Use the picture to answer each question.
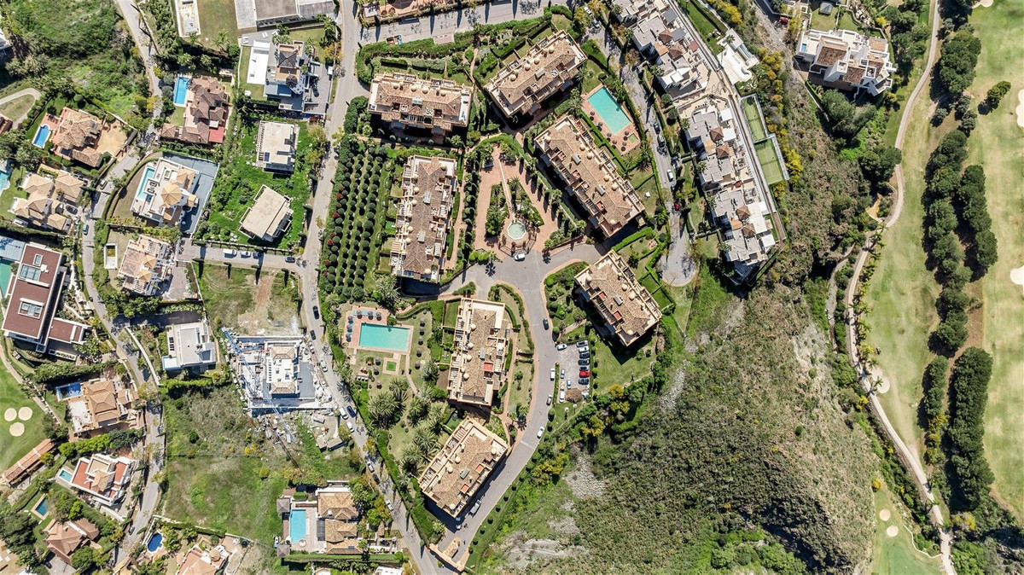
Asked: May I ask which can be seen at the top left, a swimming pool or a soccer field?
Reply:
swimming pool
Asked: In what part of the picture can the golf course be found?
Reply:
right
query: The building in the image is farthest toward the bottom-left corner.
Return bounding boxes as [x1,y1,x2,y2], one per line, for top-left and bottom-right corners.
[45,514,106,565]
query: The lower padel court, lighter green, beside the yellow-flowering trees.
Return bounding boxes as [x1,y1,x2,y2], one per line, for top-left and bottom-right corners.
[753,134,789,185]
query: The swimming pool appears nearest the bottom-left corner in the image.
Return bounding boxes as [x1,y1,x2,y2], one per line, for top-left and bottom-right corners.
[32,496,54,519]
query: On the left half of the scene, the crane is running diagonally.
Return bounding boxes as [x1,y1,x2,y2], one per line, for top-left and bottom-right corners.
[221,327,296,437]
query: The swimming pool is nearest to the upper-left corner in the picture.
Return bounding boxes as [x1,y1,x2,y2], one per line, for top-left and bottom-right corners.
[34,123,51,145]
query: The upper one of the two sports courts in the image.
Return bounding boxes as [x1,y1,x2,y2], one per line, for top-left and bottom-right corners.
[741,95,769,143]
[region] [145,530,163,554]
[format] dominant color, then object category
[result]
blue swimming pool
